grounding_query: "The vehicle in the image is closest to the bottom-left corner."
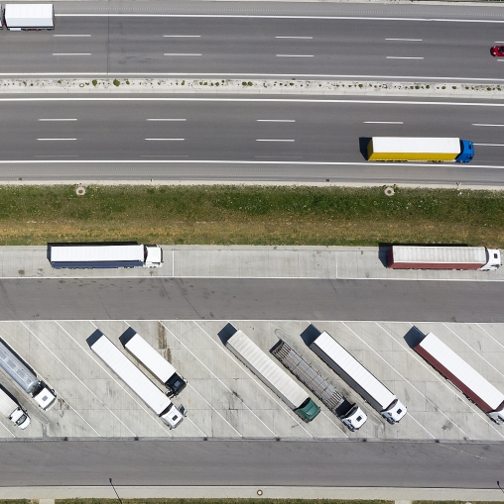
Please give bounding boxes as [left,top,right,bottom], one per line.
[0,389,32,430]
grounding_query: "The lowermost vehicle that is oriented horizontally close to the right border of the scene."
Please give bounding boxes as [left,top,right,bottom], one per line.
[388,246,501,269]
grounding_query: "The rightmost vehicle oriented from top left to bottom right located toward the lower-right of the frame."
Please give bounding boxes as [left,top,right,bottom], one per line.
[413,333,504,425]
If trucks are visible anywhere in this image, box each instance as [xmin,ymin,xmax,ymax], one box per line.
[310,331,406,425]
[273,344,368,433]
[0,3,55,30]
[125,333,188,400]
[0,341,56,408]
[413,333,504,425]
[366,137,475,163]
[226,330,322,425]
[52,245,163,268]
[388,246,501,269]
[92,335,184,431]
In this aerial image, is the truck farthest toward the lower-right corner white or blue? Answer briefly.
white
